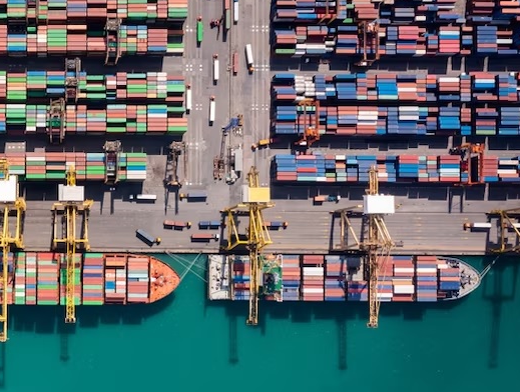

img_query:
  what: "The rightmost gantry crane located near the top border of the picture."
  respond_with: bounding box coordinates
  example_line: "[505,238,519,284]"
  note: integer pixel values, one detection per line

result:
[347,19,381,70]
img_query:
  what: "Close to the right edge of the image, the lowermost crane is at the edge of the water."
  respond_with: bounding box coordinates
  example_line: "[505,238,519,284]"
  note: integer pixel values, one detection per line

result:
[477,206,520,262]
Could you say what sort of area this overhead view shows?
port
